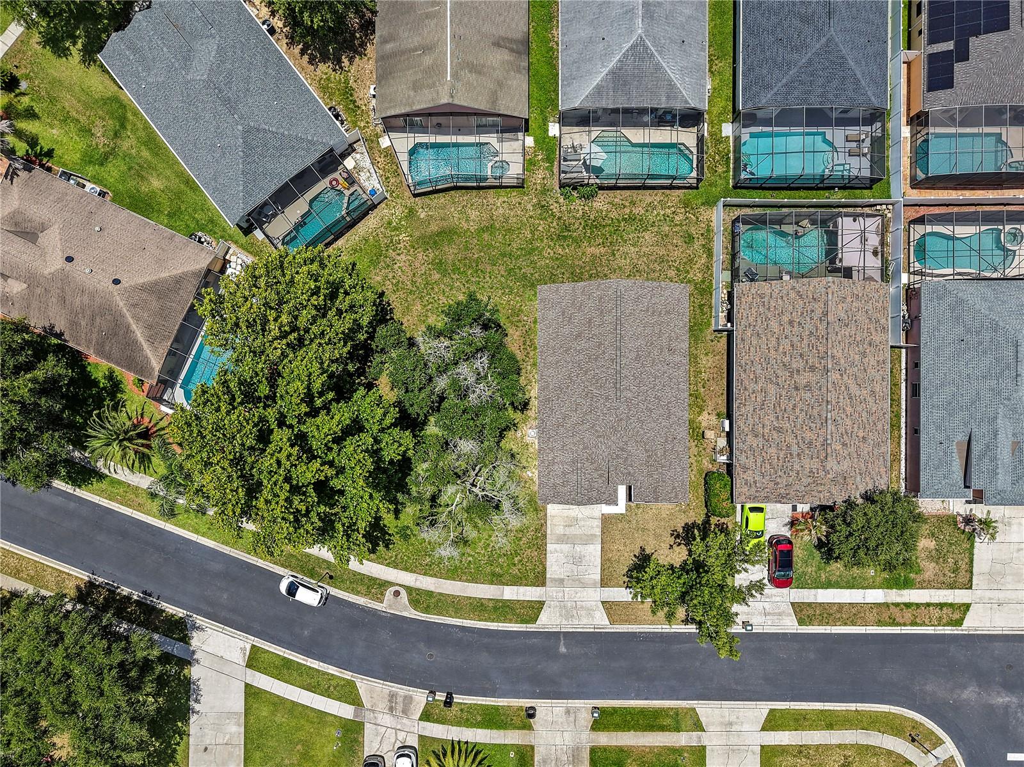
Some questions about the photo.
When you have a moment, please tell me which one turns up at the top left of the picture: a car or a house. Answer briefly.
house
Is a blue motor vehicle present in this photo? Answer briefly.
No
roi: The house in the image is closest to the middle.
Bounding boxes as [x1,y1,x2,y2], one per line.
[538,279,689,504]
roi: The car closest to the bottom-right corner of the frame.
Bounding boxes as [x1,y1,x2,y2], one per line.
[768,534,797,588]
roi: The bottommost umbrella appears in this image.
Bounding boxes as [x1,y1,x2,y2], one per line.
[792,215,812,233]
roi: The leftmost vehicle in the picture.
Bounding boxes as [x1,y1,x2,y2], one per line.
[278,572,331,608]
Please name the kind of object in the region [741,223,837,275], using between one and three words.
swimming pool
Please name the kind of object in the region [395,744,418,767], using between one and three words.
car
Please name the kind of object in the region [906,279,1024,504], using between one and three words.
house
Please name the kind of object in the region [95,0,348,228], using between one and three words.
house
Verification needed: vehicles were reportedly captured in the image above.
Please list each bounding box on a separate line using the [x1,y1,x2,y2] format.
[768,534,797,588]
[278,572,331,608]
[395,744,418,767]
[363,753,387,767]
[742,504,770,552]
